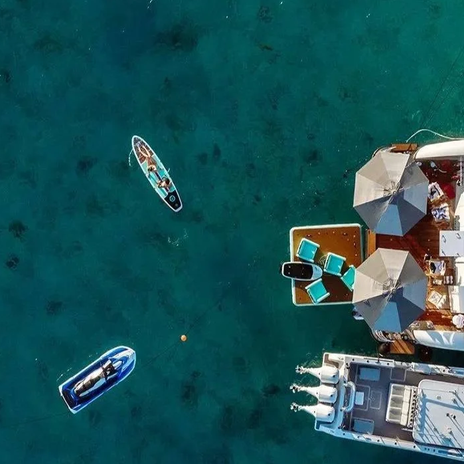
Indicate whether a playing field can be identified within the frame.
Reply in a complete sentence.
No, no playing field is visible in the view.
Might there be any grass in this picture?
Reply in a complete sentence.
No, grass can't be seen anywhere here.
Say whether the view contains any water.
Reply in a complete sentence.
Yes, water can be seen from above here.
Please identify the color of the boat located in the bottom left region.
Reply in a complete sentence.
In this view, the boat located in the bottom left region is blue.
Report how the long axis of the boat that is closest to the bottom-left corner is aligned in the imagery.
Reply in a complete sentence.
Seen from above, the boat that is closest to the bottom-left corner lies diagonally.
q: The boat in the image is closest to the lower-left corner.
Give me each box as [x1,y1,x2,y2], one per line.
[58,350,136,412]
